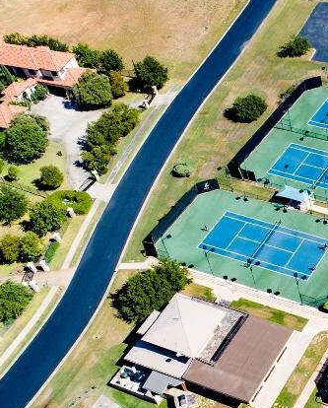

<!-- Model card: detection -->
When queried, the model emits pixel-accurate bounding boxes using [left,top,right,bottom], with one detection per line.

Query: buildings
[0,42,87,134]
[126,293,295,408]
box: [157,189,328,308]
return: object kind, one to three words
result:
tennis court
